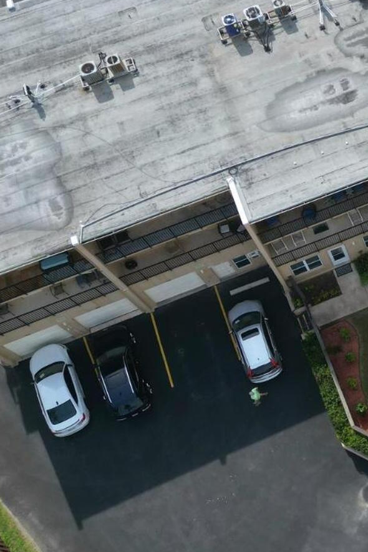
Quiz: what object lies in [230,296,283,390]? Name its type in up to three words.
car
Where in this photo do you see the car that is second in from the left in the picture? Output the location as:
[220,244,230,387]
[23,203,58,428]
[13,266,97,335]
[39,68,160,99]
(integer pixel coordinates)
[93,328,150,425]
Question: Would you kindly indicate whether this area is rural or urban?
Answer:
urban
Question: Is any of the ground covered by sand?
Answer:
No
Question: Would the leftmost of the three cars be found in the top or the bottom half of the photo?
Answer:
bottom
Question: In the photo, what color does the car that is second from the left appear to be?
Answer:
black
